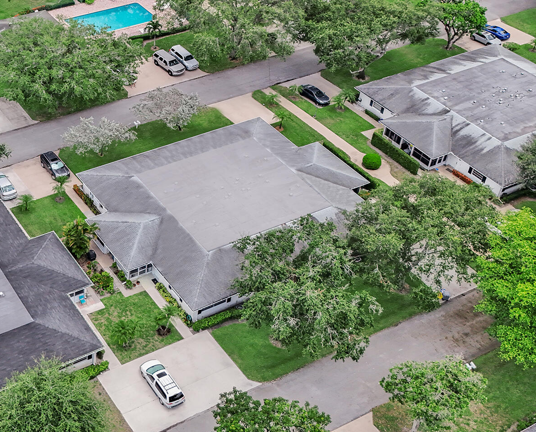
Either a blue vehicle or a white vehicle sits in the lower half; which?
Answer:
white vehicle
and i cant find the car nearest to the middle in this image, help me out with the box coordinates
[296,84,334,109]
